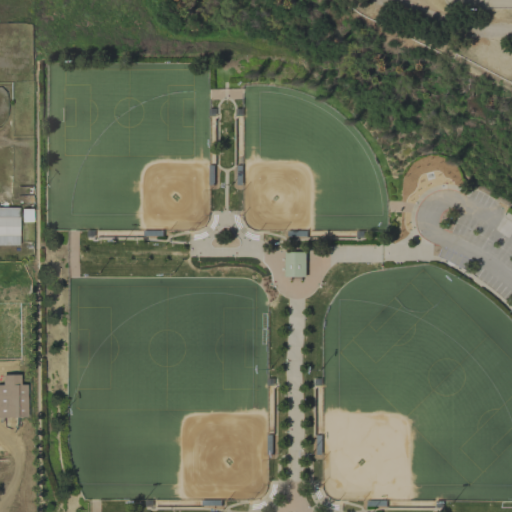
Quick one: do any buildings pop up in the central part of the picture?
Yes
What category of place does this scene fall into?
sports ground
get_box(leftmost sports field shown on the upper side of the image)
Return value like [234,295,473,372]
[48,62,212,230]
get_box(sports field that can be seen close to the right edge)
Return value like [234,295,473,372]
[322,264,512,500]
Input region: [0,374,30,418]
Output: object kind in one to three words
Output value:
house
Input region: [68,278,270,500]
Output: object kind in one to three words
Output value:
sports field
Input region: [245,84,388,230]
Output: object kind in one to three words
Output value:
sports field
